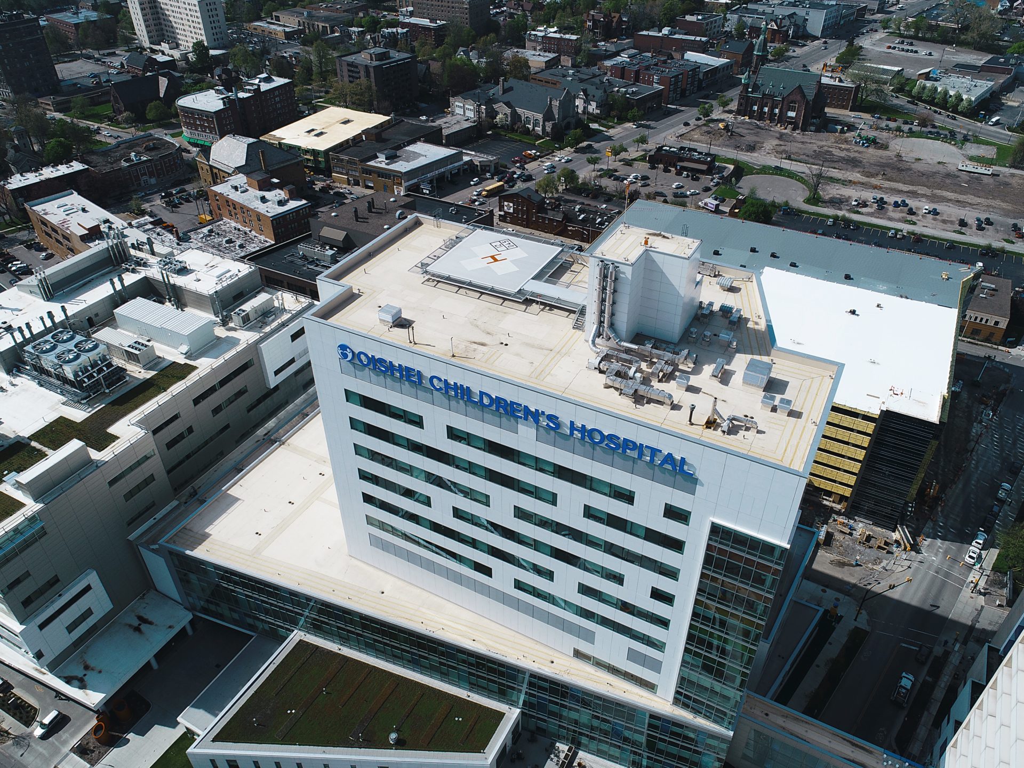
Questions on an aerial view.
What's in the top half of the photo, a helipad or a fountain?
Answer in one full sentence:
The feature located in the top half of the photo is a helipad.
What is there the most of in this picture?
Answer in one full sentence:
What you mostly see from above here is buildings.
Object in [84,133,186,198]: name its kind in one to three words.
building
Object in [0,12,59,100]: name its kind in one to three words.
building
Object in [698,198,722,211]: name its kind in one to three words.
vehicle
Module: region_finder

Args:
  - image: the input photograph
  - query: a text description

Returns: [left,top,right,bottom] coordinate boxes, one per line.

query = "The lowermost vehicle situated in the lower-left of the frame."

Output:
[30,705,66,739]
